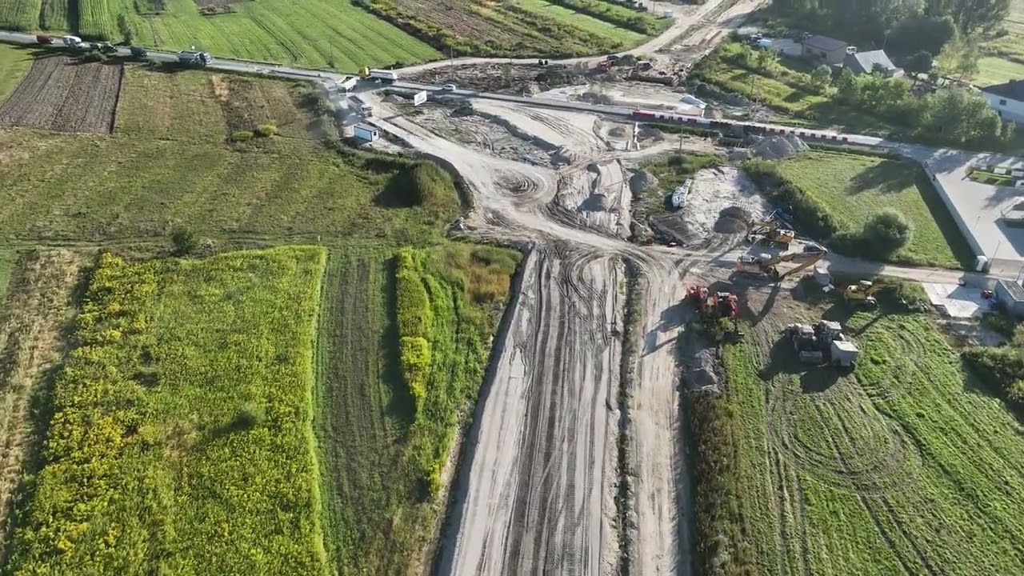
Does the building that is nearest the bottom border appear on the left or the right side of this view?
right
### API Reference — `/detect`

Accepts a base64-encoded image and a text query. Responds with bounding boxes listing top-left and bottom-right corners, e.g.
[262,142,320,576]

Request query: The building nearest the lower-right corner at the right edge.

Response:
[994,277,1024,320]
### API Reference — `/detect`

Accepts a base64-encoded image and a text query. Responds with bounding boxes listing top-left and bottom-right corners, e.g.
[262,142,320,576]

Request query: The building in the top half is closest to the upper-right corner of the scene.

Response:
[987,75,1024,119]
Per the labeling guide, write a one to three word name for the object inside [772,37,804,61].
shed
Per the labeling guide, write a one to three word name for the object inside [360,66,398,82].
vehicle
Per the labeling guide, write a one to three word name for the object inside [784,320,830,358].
work vehicle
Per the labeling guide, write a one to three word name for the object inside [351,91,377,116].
truck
